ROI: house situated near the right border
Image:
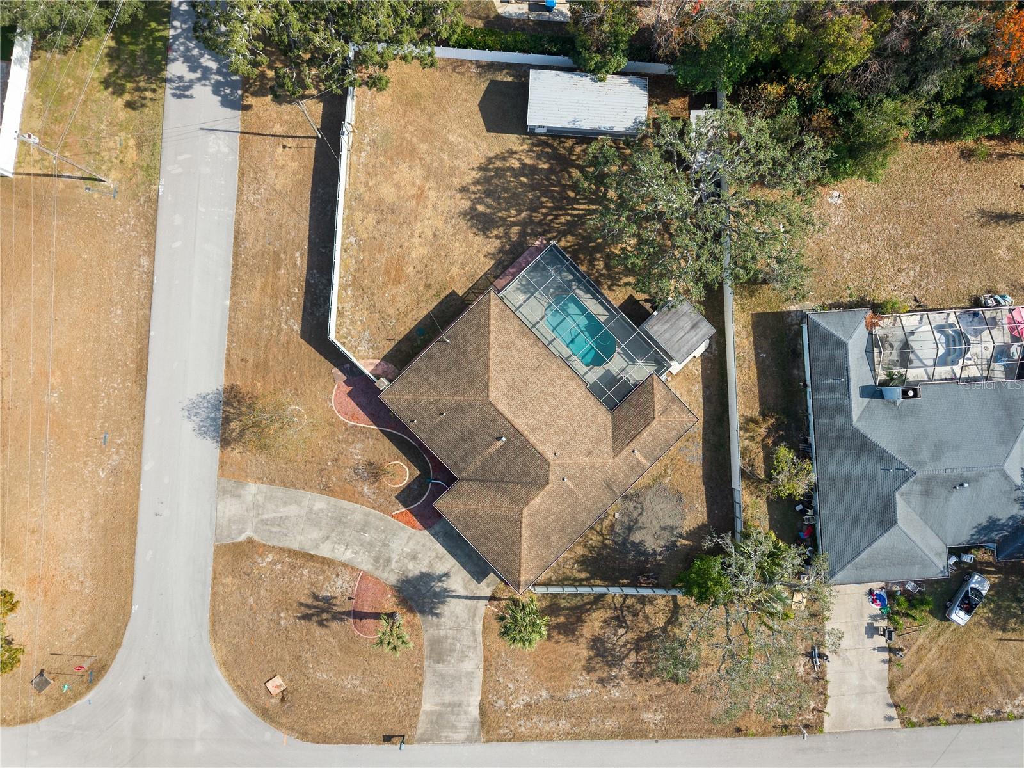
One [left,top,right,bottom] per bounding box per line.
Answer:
[805,306,1024,585]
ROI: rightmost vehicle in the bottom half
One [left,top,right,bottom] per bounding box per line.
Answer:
[950,573,991,627]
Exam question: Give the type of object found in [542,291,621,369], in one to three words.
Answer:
swimming pool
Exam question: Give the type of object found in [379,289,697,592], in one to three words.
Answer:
house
